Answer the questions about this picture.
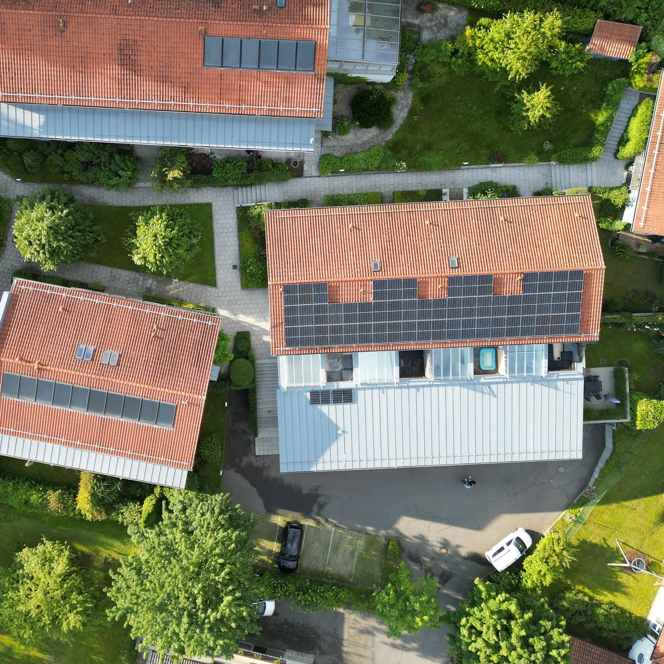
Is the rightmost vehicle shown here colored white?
Yes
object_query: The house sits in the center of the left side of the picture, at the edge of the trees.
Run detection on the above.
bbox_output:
[0,276,222,490]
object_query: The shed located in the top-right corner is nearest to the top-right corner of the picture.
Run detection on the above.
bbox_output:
[585,18,643,61]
